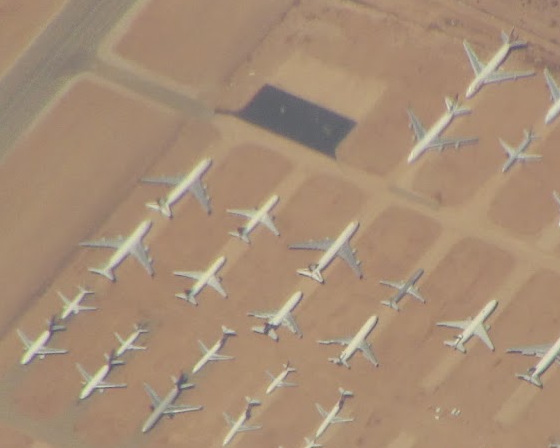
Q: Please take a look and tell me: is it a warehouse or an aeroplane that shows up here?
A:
aeroplane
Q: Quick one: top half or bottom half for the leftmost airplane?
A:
bottom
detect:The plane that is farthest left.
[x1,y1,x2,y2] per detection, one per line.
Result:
[17,316,67,365]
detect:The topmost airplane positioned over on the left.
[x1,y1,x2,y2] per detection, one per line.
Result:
[141,158,213,218]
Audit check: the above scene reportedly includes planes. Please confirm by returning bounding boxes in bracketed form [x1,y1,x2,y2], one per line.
[223,398,261,446]
[227,195,281,243]
[173,256,228,306]
[265,362,296,393]
[506,337,560,388]
[316,390,354,437]
[305,436,322,448]
[76,350,125,398]
[141,158,213,218]
[318,316,378,368]
[80,219,155,281]
[247,291,302,340]
[407,98,478,162]
[289,221,362,284]
[141,376,201,431]
[380,269,426,310]
[60,283,95,318]
[436,300,497,352]
[17,316,67,365]
[193,326,232,372]
[463,30,536,96]
[500,128,543,171]
[115,323,147,355]
[545,68,560,123]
